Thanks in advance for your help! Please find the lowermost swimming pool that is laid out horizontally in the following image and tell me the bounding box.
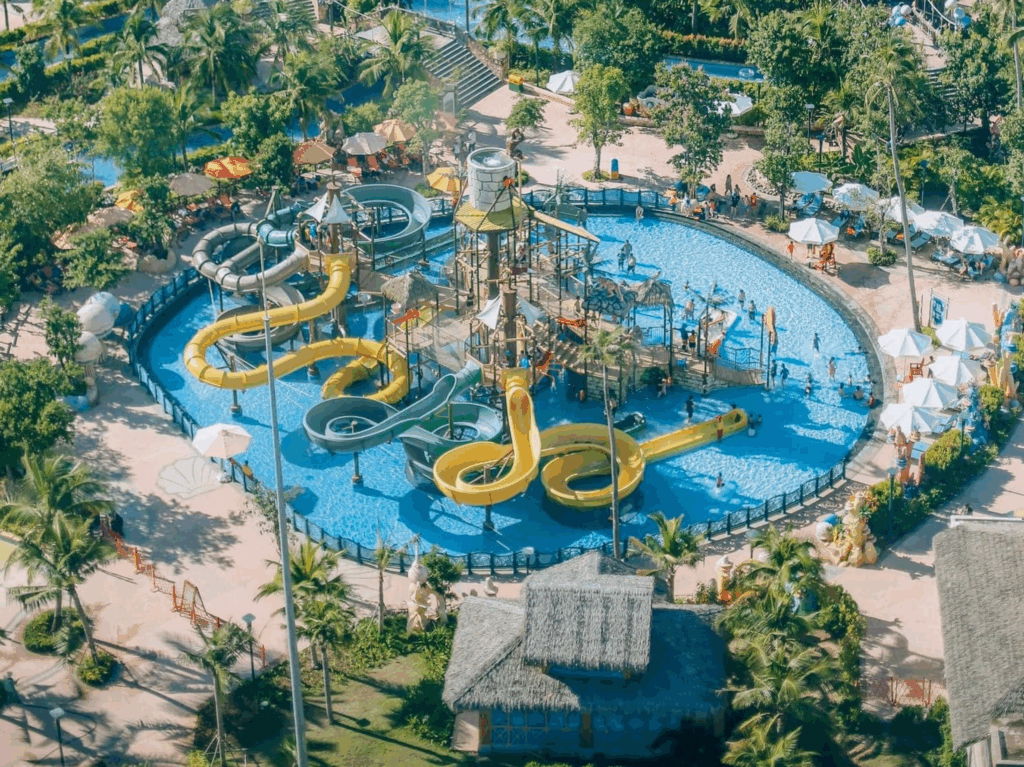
[132,214,870,572]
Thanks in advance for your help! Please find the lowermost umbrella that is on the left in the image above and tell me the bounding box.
[194,429,250,460]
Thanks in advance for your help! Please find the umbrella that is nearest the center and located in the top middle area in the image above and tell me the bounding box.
[425,172,465,216]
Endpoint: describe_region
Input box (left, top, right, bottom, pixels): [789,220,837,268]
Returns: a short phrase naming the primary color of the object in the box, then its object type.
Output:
white umbrella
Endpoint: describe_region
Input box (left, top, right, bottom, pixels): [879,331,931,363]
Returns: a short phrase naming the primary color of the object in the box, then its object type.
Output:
white umbrella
